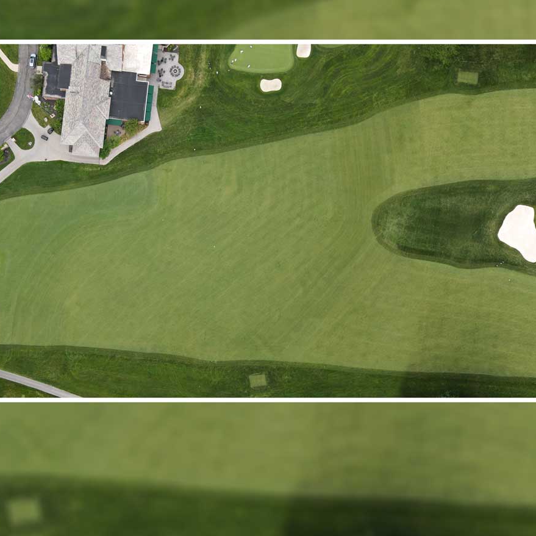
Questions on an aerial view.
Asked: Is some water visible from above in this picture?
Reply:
No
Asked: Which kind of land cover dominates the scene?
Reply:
grass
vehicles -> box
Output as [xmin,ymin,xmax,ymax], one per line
[28,53,35,69]
[39,135,48,140]
[44,127,53,135]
